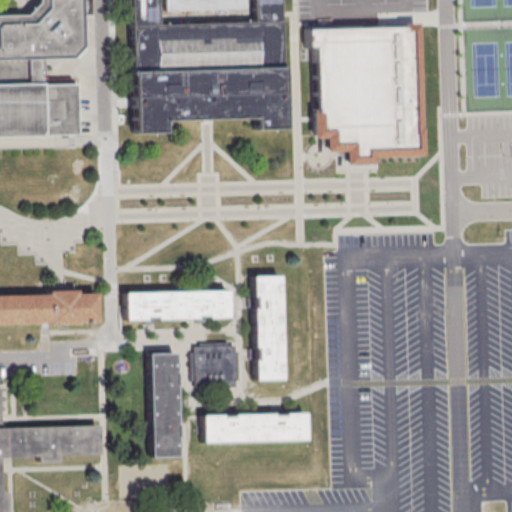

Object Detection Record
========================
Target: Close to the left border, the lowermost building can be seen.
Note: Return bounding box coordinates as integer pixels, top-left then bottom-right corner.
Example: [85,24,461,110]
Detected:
[0,426,102,512]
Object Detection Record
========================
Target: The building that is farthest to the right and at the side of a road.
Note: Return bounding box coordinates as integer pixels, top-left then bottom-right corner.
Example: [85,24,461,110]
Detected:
[305,24,428,165]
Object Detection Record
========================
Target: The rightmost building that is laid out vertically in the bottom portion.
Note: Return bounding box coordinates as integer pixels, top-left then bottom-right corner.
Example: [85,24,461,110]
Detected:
[251,274,288,382]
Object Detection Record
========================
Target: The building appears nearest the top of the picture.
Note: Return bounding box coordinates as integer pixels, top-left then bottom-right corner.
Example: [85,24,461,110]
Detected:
[0,0,86,60]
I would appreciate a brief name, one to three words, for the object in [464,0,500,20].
tennis court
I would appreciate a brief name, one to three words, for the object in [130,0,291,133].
building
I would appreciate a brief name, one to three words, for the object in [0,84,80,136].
building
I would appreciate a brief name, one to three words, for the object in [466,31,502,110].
tennis court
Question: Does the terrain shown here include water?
No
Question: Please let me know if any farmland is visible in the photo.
No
